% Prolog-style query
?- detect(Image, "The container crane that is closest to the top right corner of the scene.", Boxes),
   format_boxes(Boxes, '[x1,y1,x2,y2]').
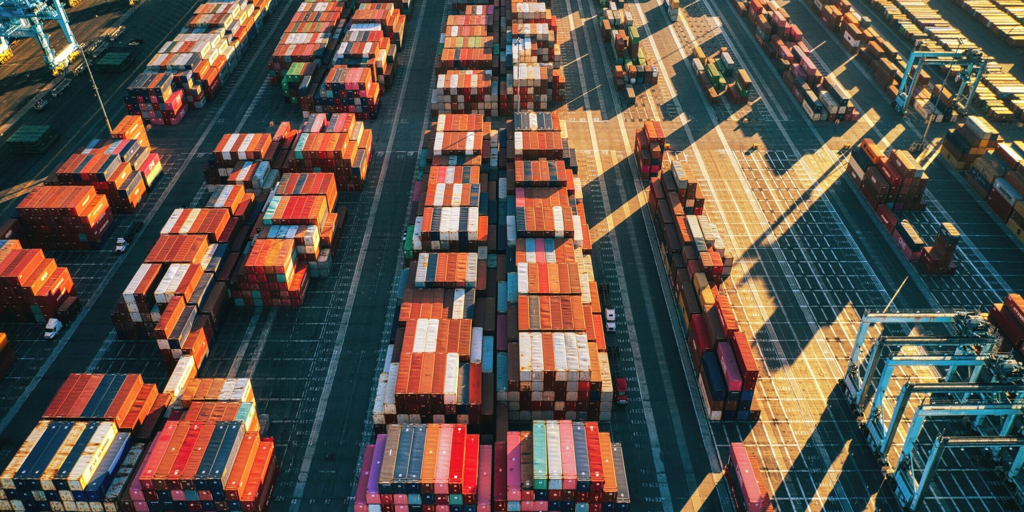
[893,44,997,118]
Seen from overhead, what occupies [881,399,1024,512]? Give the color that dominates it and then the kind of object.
blue container crane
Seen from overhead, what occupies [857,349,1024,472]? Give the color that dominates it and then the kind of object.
blue container crane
